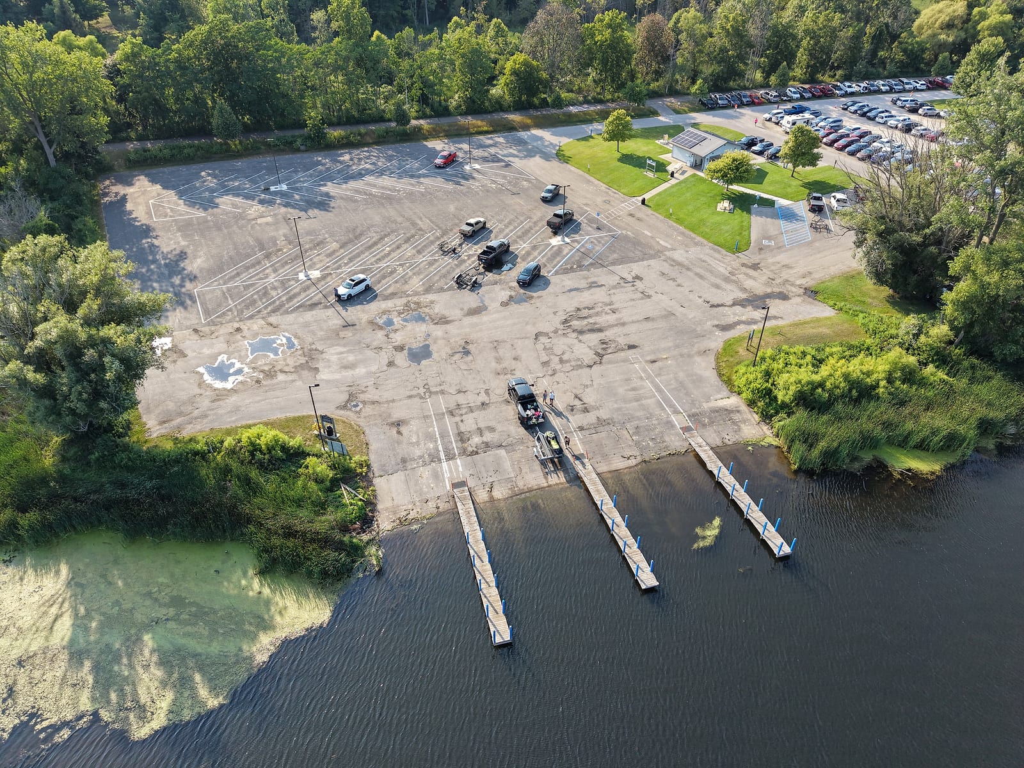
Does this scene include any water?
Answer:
Yes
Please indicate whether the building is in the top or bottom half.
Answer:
top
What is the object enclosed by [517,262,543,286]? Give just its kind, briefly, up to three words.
car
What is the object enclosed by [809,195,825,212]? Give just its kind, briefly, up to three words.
vehicle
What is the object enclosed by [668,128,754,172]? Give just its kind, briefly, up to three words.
building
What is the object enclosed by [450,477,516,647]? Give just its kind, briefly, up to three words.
pier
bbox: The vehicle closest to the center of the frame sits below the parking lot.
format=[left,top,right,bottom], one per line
[511,378,544,423]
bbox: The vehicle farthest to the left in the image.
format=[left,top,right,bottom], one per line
[332,273,370,299]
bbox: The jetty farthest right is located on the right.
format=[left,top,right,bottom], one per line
[679,421,796,559]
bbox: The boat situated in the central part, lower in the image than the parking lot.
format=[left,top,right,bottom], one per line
[547,428,565,454]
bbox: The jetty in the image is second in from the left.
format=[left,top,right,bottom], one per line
[568,446,663,592]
